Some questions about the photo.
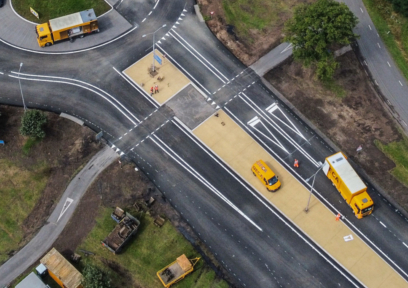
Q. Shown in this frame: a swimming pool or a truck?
truck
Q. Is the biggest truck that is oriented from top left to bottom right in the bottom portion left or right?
right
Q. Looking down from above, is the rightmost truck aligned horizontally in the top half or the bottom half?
top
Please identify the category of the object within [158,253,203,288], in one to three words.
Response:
trailer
